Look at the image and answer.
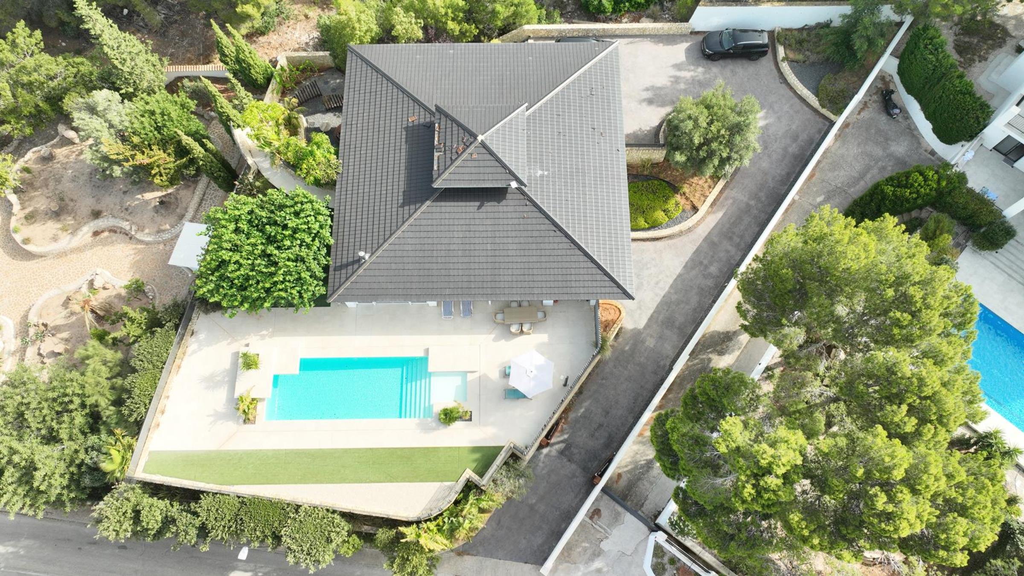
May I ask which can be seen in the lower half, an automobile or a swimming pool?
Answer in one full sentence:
The one visible in the lower half is a swimming pool.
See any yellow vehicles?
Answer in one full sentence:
No, the frame has no yellow vehicle in it.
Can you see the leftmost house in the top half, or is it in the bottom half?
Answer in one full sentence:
The leftmost house is in the top half of the image.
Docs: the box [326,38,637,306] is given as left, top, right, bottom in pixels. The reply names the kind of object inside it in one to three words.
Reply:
house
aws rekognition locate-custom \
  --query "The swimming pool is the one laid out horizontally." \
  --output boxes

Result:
[265,357,467,420]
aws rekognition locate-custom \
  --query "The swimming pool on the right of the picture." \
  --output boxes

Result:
[944,296,1024,440]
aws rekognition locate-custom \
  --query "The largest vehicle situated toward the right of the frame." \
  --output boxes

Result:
[701,26,772,64]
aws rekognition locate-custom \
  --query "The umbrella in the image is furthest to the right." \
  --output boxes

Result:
[510,350,554,398]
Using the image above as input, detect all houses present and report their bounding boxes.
[984,77,1024,179]
[326,38,637,306]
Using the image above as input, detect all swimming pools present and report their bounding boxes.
[944,296,1024,440]
[265,357,467,420]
